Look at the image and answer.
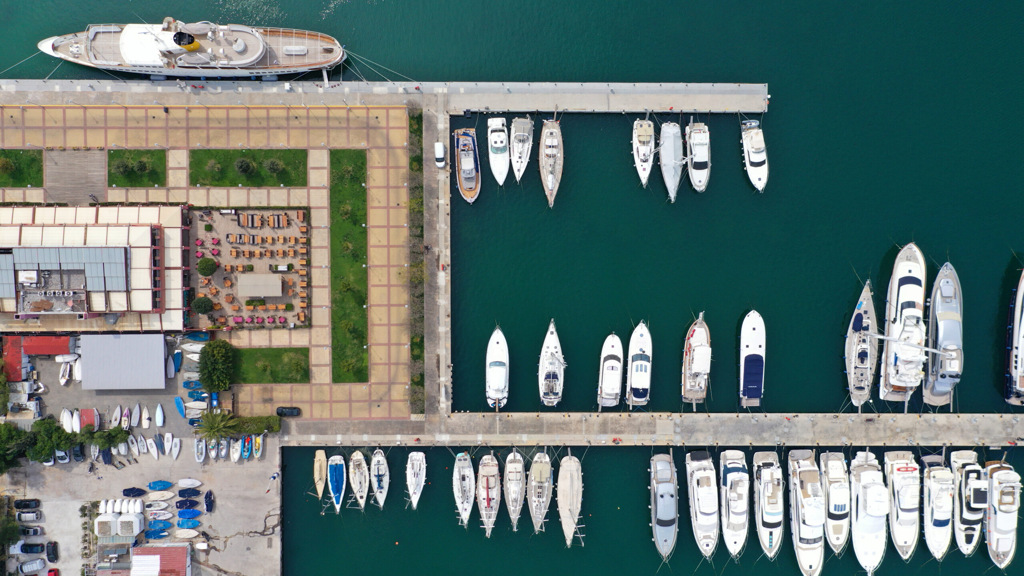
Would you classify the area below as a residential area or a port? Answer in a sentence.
This image shows a port.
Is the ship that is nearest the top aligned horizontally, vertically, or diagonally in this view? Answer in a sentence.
The ship that is nearest the top runs horizontally in the image.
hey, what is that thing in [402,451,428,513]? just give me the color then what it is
white boat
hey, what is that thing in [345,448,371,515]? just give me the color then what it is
white boat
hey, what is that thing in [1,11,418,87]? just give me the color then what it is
white ship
